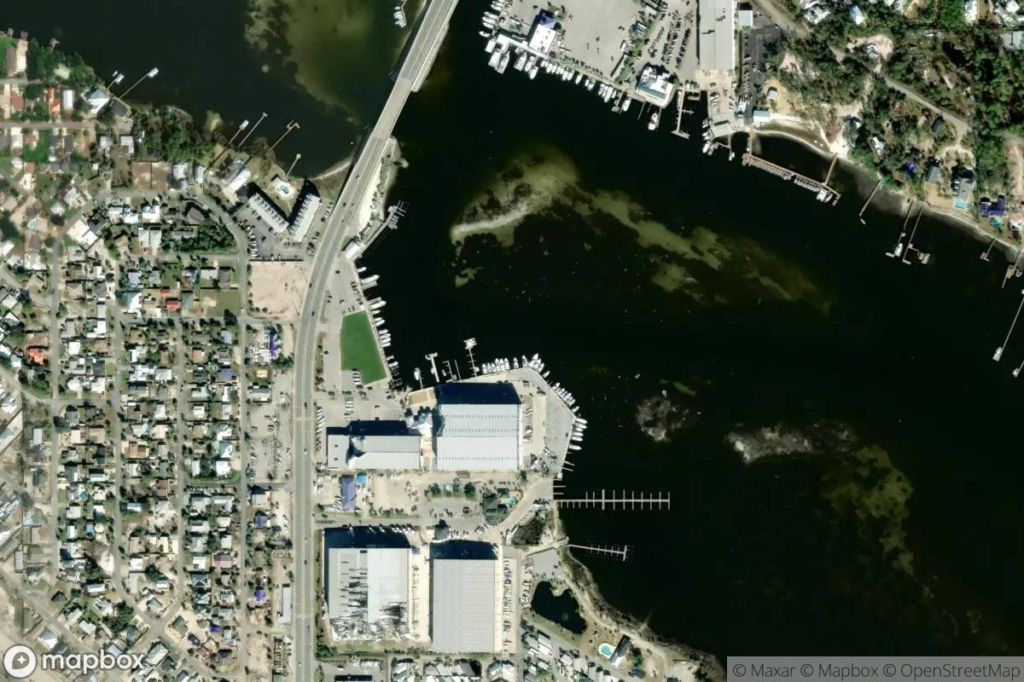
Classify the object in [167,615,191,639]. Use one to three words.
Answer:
house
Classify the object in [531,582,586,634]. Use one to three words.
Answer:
pond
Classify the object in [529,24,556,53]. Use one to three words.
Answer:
building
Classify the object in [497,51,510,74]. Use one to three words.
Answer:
boat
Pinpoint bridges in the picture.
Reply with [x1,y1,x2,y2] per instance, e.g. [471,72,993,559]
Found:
[368,72,413,146]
